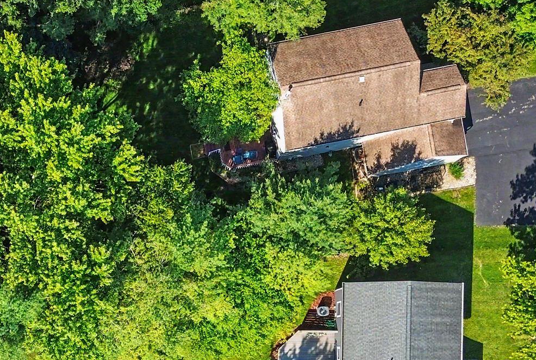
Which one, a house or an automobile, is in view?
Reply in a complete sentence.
The image shows a house.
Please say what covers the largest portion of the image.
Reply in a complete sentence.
For the most part, this view shows trees.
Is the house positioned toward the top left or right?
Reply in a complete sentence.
The house positioned toward the top appears in the right half of the scene.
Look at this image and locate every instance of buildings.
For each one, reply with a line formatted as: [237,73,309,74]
[262,17,469,181]
[334,281,464,360]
